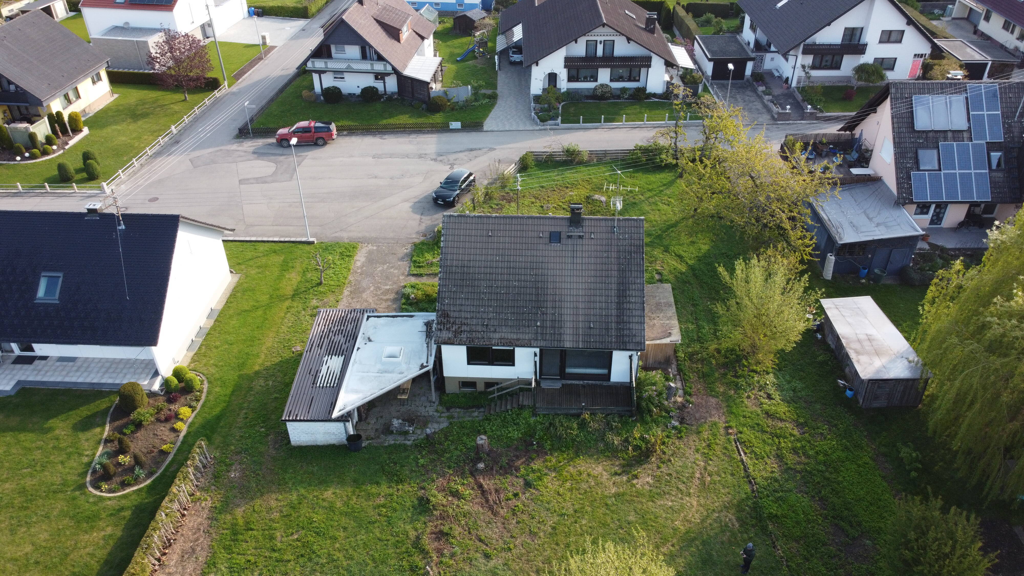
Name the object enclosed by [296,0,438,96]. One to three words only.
house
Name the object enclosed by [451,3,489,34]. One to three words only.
shed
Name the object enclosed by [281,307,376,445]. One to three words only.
building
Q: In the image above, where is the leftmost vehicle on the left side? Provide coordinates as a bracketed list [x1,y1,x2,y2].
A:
[272,116,337,146]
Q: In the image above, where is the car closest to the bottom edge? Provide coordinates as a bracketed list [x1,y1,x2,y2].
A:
[431,164,479,204]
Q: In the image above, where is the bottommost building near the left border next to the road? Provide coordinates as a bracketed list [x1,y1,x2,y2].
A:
[0,201,236,374]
